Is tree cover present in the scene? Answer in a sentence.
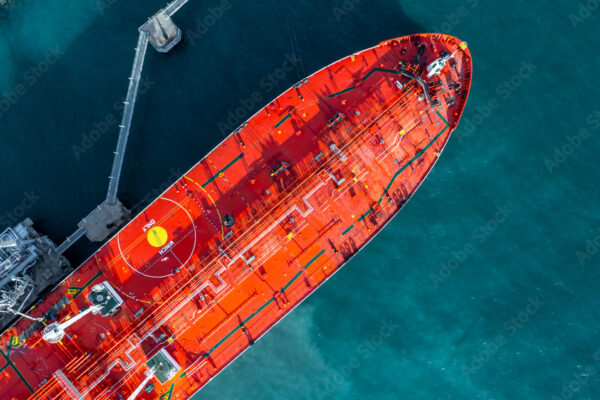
No, the scene doesn't show any tree cover.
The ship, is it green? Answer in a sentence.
No, from above the ship looks red.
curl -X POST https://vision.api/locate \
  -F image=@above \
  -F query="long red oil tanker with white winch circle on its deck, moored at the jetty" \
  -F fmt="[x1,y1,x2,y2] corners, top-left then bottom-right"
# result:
[0,33,475,400]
